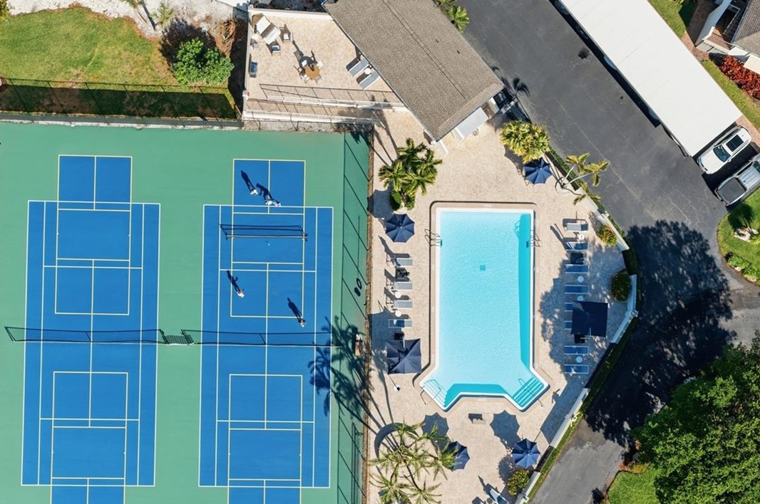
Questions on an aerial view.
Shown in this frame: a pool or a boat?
pool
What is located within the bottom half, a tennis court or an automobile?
tennis court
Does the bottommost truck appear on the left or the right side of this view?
right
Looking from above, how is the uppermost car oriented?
diagonally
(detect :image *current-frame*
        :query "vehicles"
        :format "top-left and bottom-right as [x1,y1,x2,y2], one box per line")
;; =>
[696,126,750,175]
[713,154,760,208]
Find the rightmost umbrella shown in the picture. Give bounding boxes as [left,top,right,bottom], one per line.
[572,302,605,346]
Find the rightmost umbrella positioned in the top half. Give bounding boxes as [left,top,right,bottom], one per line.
[524,157,552,186]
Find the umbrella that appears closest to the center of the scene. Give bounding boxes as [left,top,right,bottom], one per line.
[384,214,415,243]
